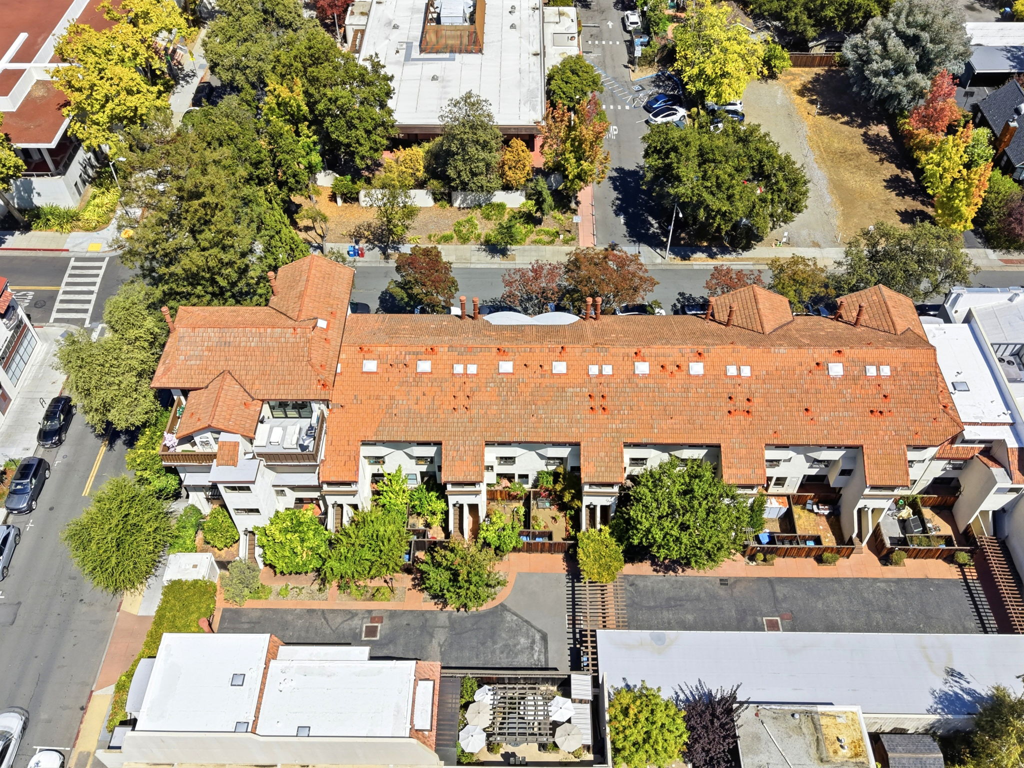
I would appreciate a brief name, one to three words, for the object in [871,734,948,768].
shed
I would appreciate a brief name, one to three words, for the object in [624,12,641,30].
car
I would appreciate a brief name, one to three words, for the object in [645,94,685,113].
car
